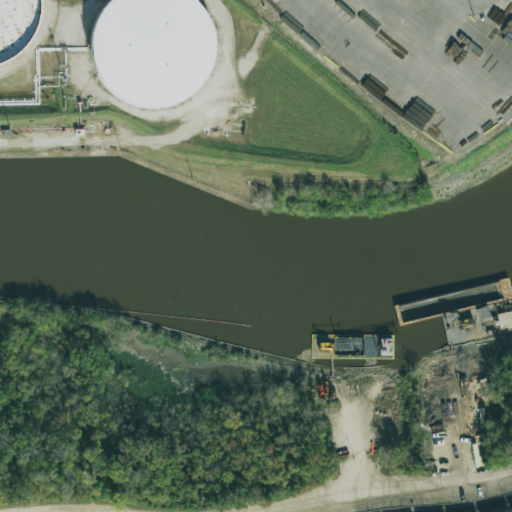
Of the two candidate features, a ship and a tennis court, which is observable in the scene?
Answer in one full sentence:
Of the two, only a ship appears.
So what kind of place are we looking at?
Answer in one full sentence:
This image shows an industrial area.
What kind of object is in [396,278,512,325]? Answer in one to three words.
ship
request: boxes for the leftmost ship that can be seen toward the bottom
[312,334,395,360]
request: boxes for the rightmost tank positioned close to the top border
[92,0,220,112]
